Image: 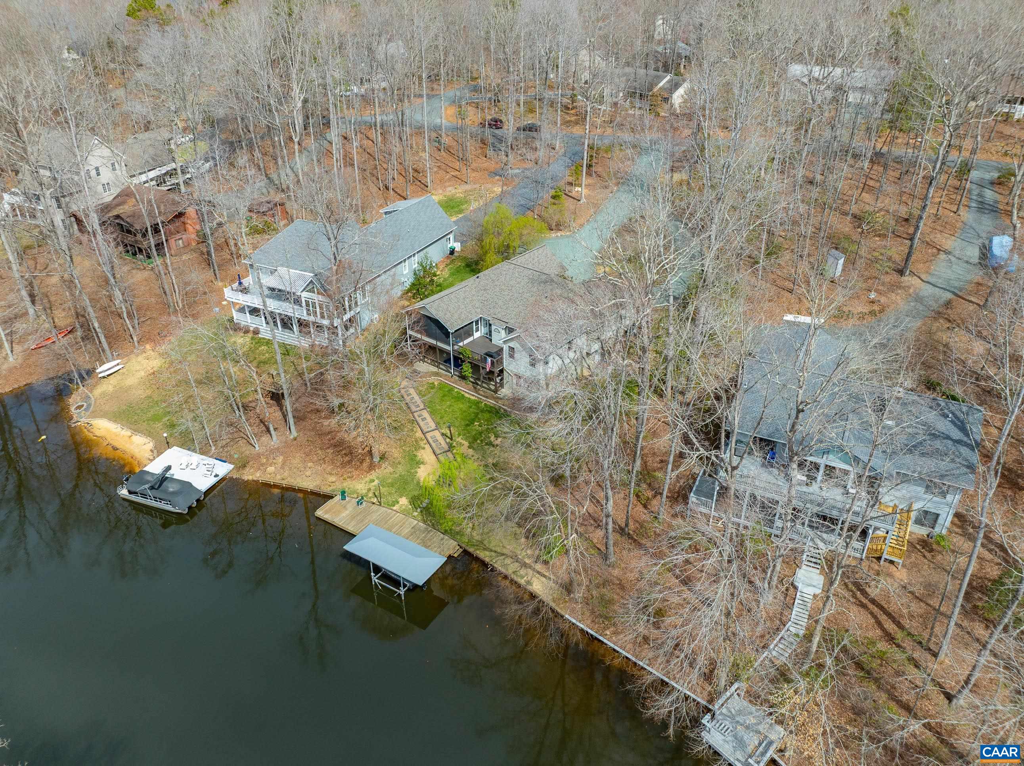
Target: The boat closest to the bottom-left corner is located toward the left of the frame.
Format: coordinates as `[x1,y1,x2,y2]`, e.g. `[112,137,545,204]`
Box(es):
[116,469,201,514]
